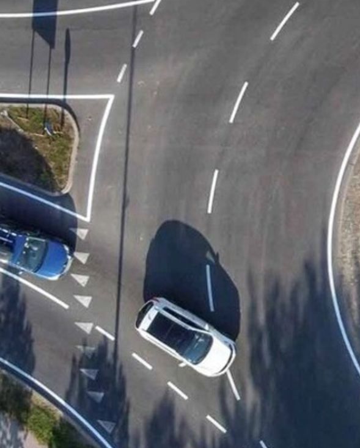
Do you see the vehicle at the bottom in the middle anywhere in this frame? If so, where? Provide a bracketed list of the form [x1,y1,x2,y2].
[134,297,237,374]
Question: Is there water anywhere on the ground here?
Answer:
No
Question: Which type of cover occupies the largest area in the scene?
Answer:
paved ground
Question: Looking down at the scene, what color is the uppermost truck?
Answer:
blue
